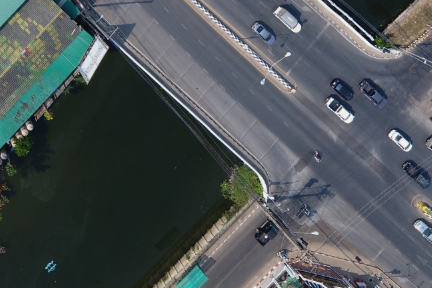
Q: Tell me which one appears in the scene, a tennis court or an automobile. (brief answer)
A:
automobile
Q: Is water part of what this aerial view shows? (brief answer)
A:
Yes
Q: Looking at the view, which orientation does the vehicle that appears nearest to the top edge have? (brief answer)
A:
diagonally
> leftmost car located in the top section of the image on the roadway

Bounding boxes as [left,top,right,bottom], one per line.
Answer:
[250,20,275,44]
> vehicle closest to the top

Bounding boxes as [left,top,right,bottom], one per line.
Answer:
[272,6,300,31]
